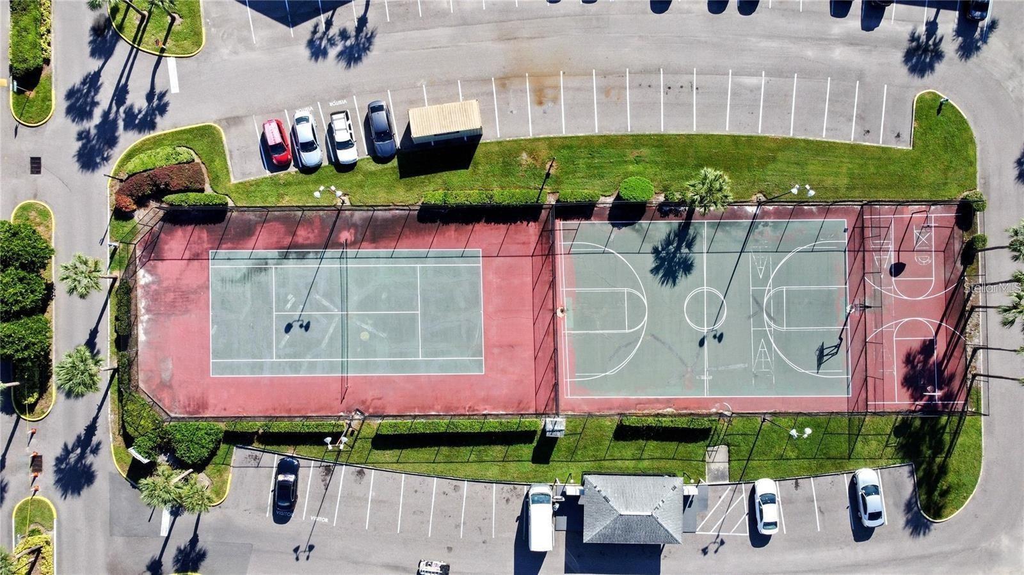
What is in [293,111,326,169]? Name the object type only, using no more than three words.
car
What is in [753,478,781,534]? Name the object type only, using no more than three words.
car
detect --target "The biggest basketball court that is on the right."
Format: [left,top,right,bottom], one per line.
[554,204,868,414]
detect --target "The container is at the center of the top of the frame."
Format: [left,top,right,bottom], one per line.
[407,98,483,143]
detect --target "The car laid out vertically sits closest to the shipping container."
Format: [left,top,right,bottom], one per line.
[368,101,398,160]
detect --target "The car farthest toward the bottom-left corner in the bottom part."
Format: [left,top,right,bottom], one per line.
[272,456,299,511]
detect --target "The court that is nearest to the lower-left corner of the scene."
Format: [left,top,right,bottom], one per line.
[135,206,556,415]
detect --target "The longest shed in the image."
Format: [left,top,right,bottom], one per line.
[564,475,697,544]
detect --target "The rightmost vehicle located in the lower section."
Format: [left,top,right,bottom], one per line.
[853,468,884,526]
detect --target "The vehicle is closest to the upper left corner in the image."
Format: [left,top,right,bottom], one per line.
[263,118,295,169]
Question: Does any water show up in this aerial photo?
No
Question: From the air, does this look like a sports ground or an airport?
sports ground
